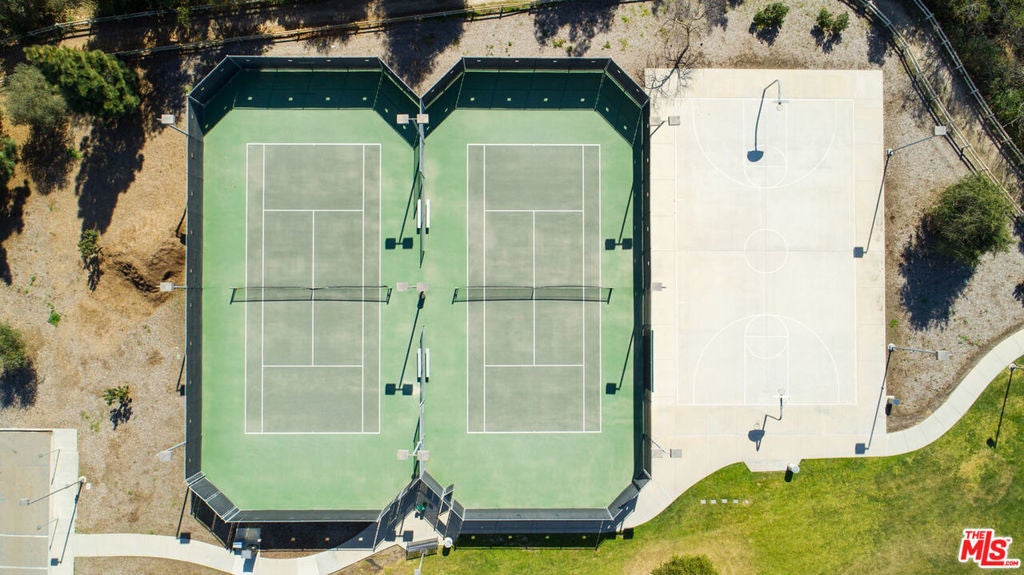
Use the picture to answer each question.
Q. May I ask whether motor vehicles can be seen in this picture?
No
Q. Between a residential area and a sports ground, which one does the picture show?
sports ground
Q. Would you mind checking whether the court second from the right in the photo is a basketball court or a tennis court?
tennis court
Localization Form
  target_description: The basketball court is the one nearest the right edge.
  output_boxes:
[615,69,1024,529]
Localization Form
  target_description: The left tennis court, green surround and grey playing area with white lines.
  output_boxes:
[202,67,425,510]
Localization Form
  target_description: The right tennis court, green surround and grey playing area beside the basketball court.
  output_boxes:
[425,69,644,509]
